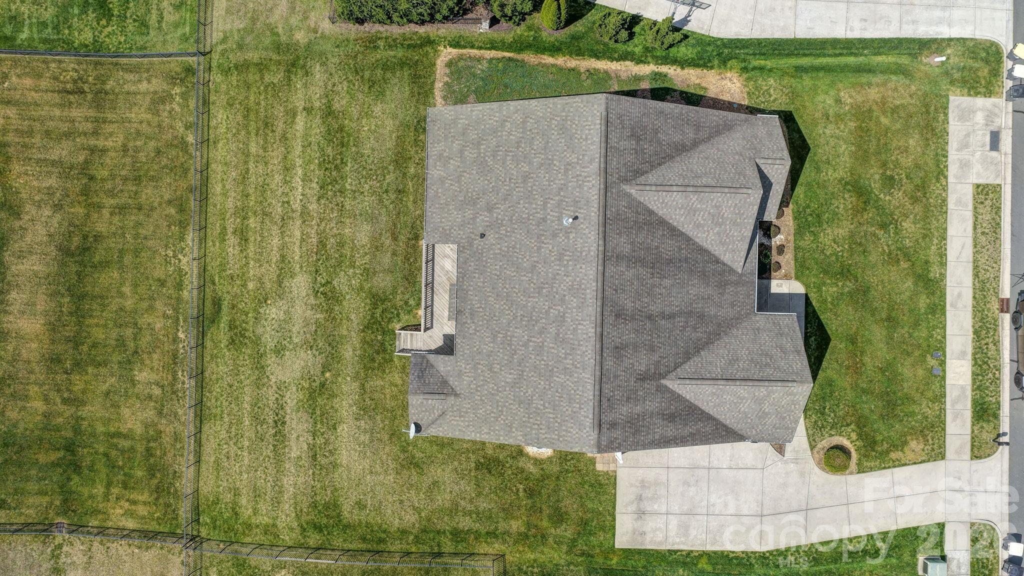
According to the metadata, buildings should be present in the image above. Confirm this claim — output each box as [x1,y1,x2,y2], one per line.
[408,94,813,462]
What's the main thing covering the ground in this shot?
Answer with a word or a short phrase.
grass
